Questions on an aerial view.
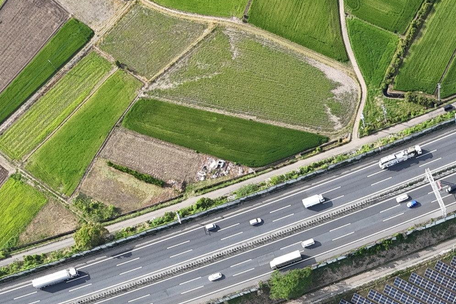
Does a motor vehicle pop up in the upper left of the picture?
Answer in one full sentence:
No, I see no motor vehicle in the upper left of the picture.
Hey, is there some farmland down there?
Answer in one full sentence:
Yes, farmland shows up in the scene.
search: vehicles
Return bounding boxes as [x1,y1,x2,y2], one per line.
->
[29,266,79,288]
[396,195,409,203]
[442,104,454,114]
[408,201,417,208]
[301,195,326,209]
[270,250,303,270]
[209,273,222,281]
[249,218,262,226]
[378,146,423,169]
[302,240,315,248]
[207,224,216,231]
